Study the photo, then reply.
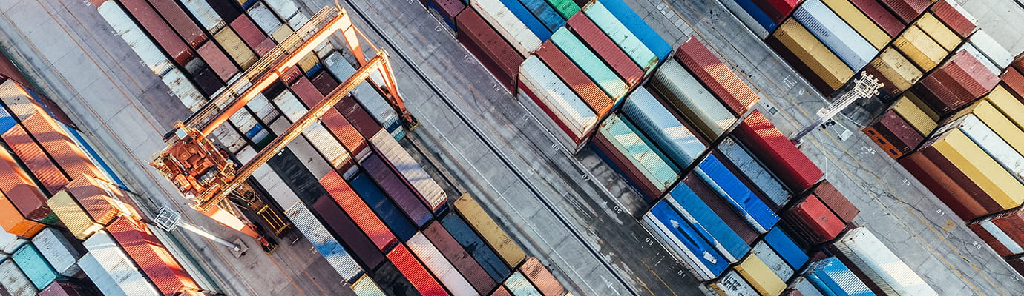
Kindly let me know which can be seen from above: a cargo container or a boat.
cargo container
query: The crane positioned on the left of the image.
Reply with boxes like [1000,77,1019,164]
[133,0,426,263]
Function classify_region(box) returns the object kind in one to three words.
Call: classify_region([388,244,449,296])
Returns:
shipping container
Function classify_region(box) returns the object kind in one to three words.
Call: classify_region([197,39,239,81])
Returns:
shipping container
